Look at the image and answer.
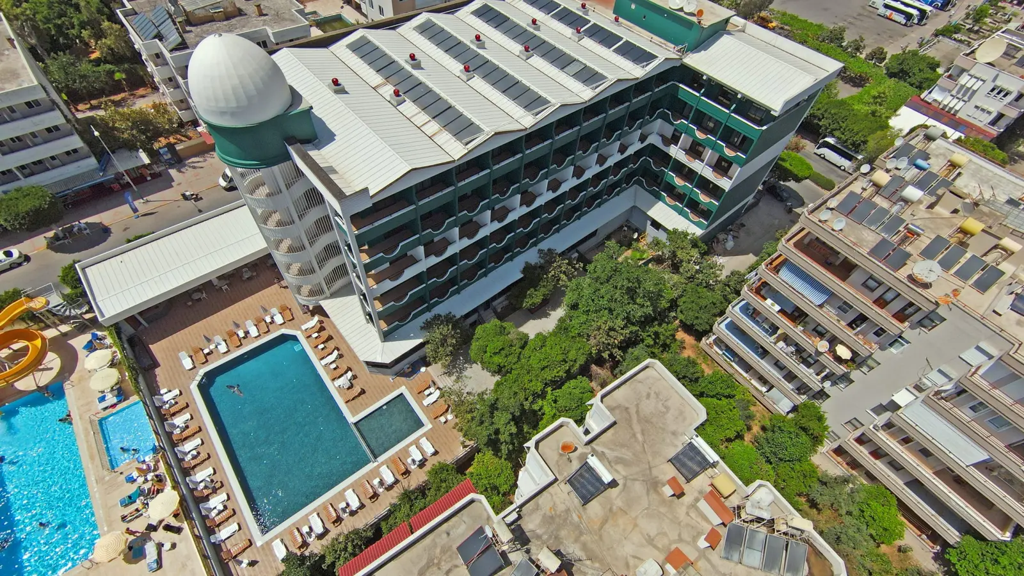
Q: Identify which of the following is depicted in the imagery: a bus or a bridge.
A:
bus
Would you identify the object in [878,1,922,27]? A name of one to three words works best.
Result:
bus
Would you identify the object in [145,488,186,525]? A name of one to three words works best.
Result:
umbrella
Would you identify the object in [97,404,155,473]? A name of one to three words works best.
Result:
swimming pool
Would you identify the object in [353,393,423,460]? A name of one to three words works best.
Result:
swimming pool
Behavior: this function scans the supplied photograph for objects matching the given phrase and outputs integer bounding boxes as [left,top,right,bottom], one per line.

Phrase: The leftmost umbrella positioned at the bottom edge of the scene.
[89,527,135,571]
